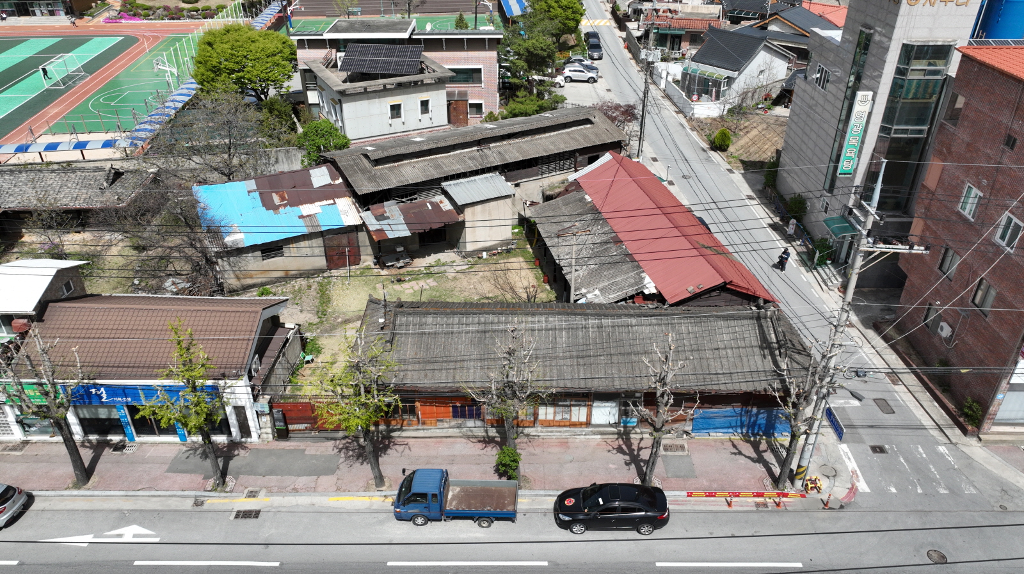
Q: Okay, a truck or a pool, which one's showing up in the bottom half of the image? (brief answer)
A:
truck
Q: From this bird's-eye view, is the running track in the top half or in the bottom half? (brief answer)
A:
top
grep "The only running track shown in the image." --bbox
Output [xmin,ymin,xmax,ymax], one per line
[0,30,167,165]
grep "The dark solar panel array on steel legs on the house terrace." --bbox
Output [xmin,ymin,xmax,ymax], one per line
[340,45,423,90]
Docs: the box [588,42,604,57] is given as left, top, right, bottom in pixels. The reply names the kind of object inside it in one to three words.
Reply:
car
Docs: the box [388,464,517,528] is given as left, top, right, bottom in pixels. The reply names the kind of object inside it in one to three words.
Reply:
truck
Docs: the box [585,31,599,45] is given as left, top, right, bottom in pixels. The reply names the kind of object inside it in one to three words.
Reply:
car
